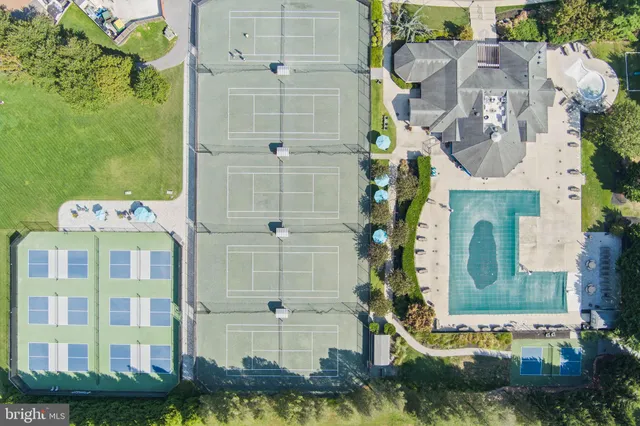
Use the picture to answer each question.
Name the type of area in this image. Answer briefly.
sports ground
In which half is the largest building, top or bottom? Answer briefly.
top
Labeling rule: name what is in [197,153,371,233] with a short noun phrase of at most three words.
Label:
tennis court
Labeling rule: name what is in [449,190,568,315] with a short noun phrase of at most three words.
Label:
swimming pool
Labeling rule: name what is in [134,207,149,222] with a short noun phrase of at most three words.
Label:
umbrella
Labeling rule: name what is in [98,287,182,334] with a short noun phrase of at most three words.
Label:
sports court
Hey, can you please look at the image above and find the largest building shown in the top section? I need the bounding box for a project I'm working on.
[394,41,555,179]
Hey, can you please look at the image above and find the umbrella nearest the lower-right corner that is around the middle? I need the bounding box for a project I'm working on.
[372,229,386,243]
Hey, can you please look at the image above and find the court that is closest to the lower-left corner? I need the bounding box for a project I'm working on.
[17,334,98,391]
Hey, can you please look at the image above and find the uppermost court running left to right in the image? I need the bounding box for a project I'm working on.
[198,0,371,73]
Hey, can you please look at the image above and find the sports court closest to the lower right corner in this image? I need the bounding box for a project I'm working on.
[510,340,598,387]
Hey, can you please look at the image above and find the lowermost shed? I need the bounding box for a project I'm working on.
[375,334,391,366]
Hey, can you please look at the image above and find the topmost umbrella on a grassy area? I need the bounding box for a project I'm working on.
[376,136,390,150]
